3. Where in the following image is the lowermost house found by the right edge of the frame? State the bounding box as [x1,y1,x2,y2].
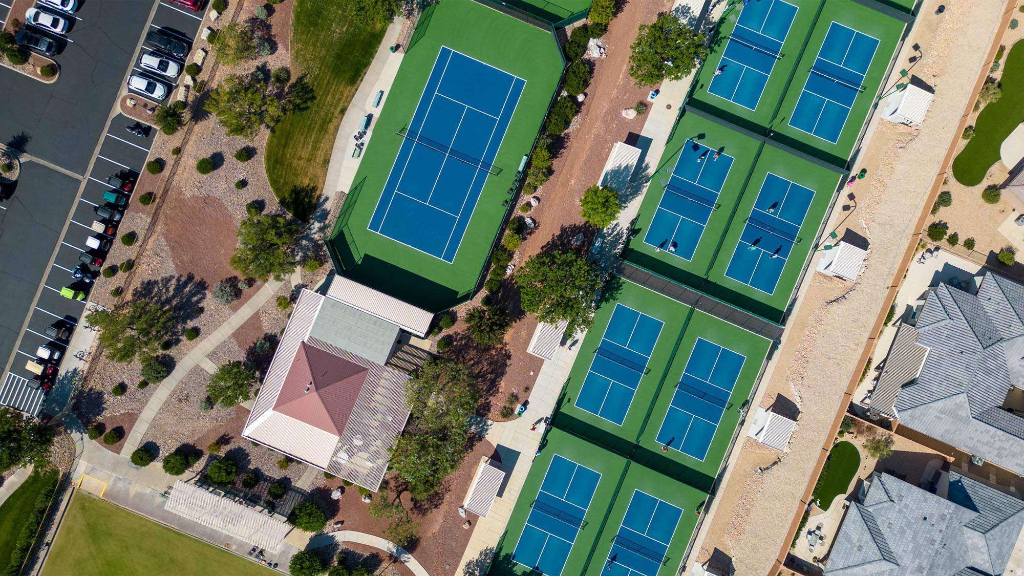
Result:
[817,468,1024,576]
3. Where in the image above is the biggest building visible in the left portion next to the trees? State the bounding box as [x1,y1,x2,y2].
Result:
[241,289,421,493]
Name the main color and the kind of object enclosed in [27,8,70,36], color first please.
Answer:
white car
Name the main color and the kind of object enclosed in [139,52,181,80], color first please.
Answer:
white car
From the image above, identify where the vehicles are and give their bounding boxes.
[90,219,118,236]
[84,235,113,251]
[40,0,82,17]
[27,8,70,36]
[106,175,135,192]
[59,285,88,301]
[165,0,208,17]
[127,126,147,138]
[144,29,192,60]
[18,30,61,58]
[139,52,181,80]
[26,374,55,390]
[42,323,71,338]
[35,344,64,359]
[95,204,124,221]
[126,74,170,102]
[23,358,56,375]
[101,189,130,206]
[77,251,106,267]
